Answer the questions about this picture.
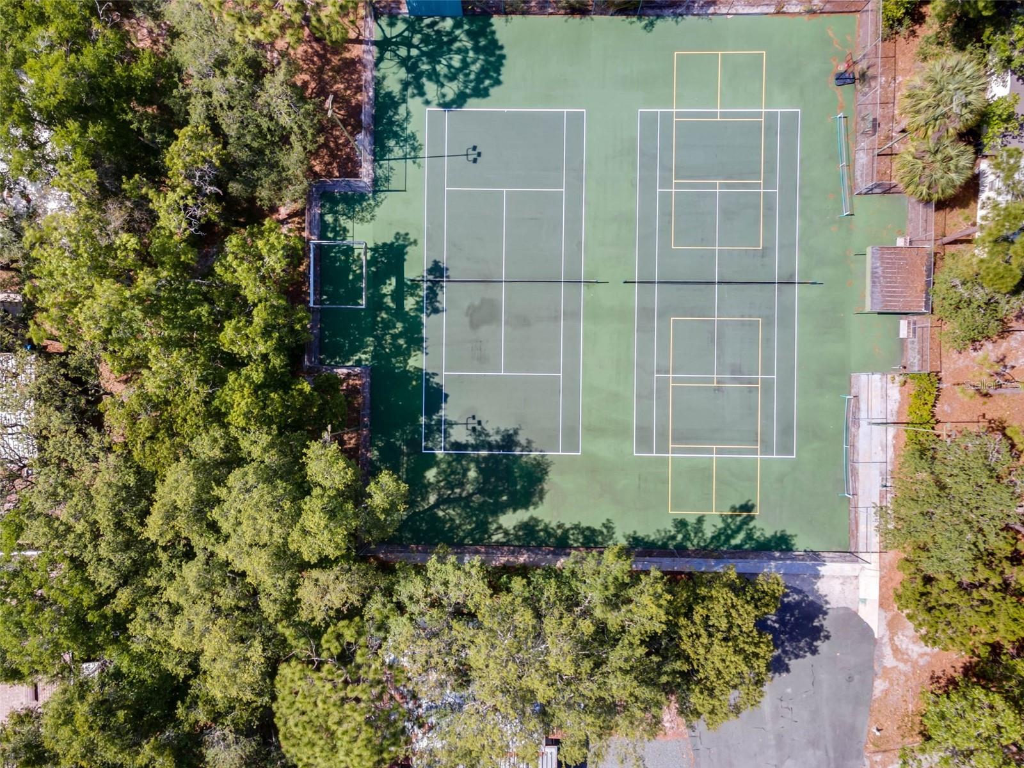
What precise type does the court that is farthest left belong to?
tennis court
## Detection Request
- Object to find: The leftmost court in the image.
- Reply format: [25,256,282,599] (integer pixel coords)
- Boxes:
[422,109,586,455]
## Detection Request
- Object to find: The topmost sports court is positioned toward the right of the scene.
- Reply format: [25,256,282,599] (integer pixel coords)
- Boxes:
[672,51,765,248]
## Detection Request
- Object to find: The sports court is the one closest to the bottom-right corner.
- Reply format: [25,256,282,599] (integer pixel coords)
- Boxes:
[669,318,762,514]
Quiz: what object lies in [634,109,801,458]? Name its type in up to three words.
tennis court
